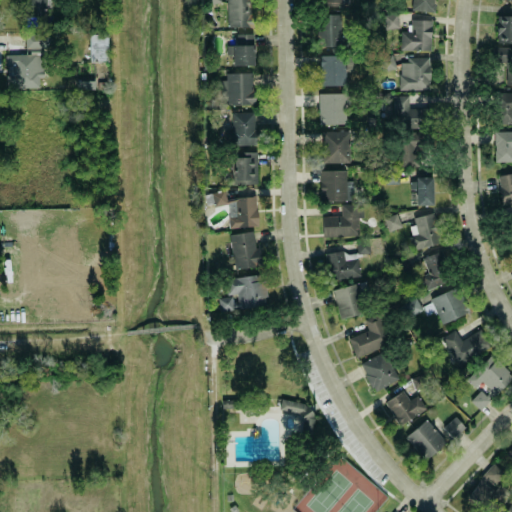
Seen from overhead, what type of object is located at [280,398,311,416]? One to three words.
building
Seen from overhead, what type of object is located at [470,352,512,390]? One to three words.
house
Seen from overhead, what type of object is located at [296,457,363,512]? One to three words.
tennis court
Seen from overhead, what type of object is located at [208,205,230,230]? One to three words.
swimming pool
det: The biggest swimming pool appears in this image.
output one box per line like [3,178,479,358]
[226,405,287,468]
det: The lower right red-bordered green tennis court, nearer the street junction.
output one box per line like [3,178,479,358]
[334,476,386,512]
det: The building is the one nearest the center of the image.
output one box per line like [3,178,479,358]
[232,232,261,269]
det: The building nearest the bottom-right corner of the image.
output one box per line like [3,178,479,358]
[476,463,504,493]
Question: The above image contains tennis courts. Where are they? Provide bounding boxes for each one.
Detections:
[334,476,386,512]
[296,457,363,512]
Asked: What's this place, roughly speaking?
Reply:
residential area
